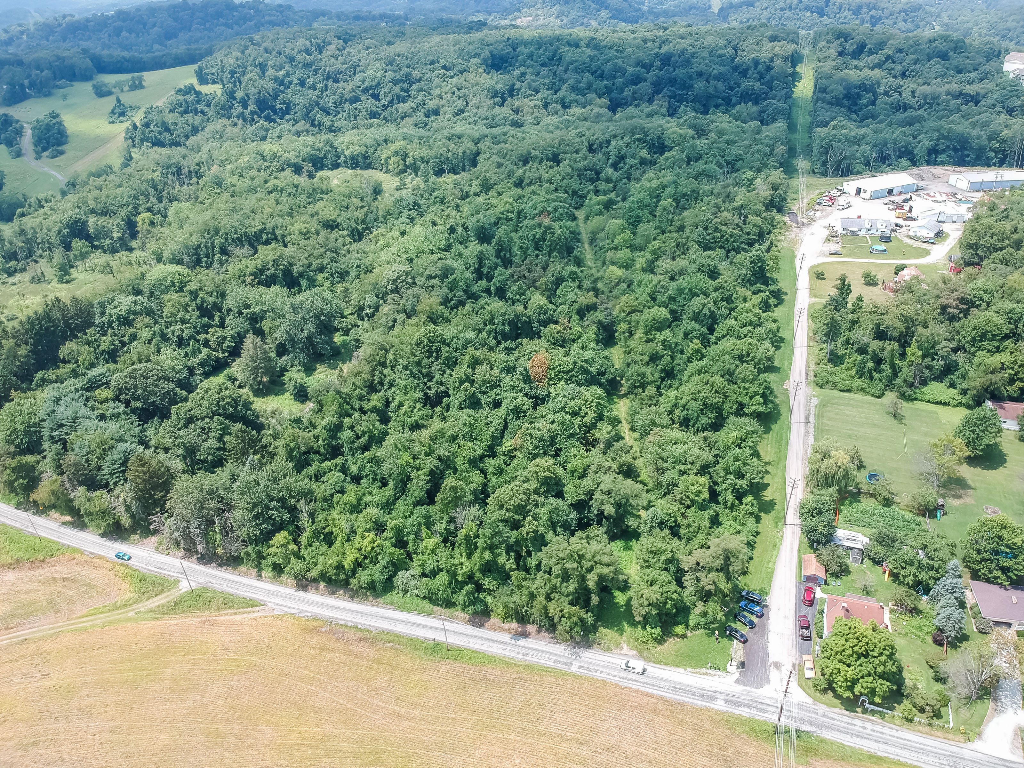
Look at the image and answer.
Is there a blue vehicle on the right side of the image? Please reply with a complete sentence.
Yes, a blue vehicle shows up on the right side of the image.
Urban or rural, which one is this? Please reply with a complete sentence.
The area shown here is rural.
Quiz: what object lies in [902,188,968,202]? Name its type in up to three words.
shed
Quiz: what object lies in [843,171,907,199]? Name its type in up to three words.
building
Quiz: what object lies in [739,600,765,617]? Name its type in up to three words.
car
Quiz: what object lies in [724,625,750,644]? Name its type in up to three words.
car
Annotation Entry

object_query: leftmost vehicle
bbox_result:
[111,549,134,562]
